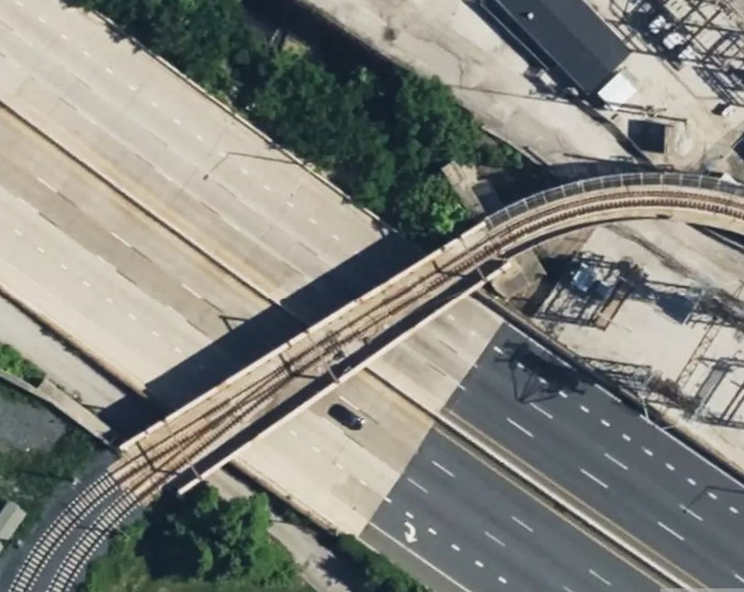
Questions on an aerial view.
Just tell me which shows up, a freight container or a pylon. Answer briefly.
pylon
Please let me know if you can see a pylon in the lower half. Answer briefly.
Yes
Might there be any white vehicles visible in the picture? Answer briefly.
No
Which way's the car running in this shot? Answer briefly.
at an angle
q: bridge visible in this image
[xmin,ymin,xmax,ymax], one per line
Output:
[104,171,744,507]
